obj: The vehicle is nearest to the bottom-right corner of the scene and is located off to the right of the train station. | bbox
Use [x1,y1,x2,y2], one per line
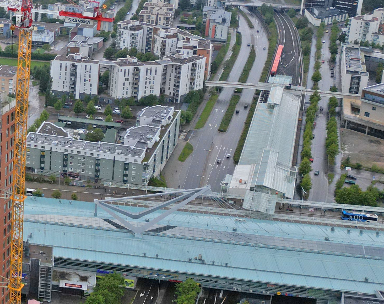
[341,210,380,223]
